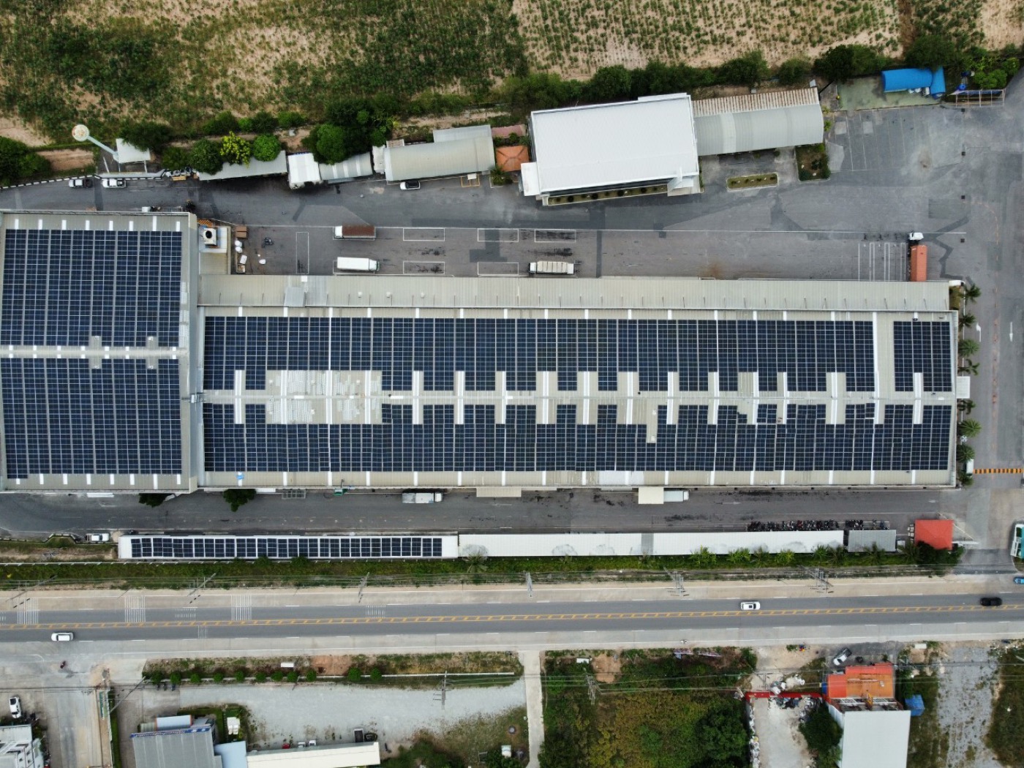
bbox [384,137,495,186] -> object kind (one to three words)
shed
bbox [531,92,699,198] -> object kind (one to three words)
building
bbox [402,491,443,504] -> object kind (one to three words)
vehicle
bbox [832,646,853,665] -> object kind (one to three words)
car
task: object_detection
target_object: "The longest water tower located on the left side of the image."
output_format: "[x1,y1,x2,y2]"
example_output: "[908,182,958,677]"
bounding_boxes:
[67,124,119,161]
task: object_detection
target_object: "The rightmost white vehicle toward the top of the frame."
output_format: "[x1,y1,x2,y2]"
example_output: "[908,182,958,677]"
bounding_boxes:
[905,232,924,256]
